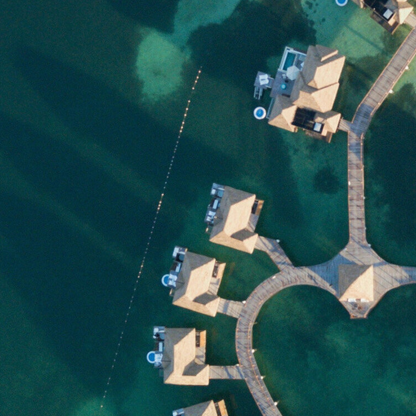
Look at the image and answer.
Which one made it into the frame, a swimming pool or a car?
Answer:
swimming pool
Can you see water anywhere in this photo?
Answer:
Yes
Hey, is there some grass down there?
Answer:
No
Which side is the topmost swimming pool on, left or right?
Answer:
right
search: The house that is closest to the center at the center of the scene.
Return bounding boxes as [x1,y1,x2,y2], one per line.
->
[203,181,266,253]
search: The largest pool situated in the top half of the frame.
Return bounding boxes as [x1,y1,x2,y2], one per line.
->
[278,44,307,73]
